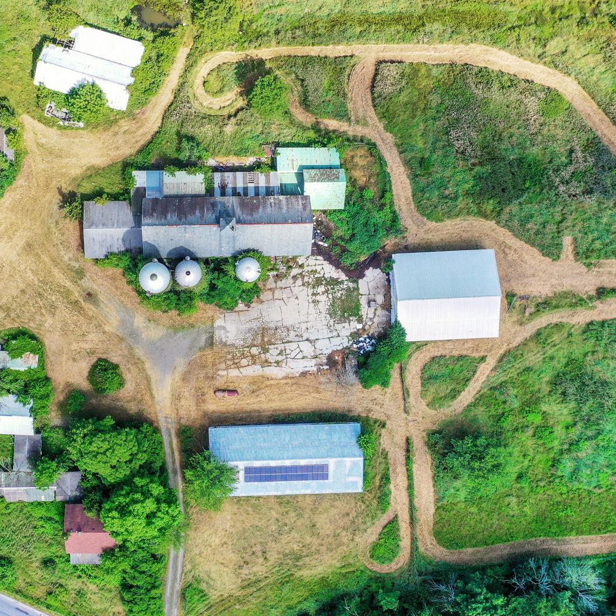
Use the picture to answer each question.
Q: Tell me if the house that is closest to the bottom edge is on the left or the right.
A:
left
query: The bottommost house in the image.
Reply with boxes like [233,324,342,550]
[64,501,116,570]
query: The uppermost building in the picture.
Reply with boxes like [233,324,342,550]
[74,25,145,71]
